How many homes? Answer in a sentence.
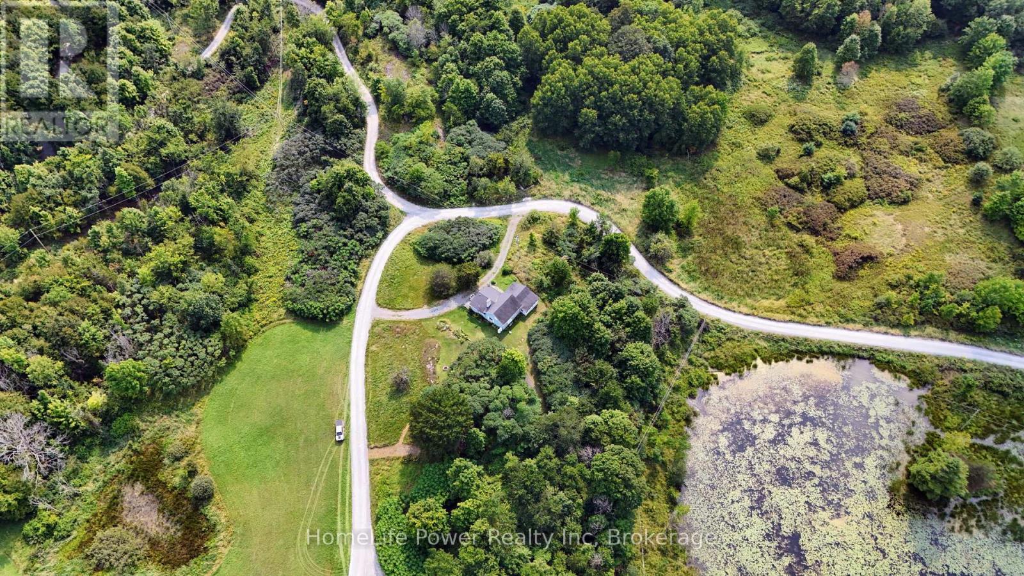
Only 1 home is visible.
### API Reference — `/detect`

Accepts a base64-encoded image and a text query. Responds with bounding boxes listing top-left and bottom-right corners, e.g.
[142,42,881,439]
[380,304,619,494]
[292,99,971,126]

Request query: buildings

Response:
[465,283,541,329]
